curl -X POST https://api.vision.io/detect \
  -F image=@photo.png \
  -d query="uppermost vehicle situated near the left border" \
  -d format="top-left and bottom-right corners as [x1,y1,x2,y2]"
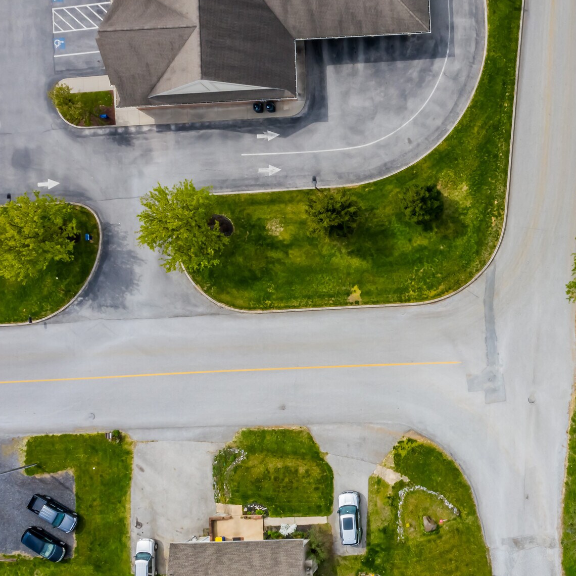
[25,491,81,532]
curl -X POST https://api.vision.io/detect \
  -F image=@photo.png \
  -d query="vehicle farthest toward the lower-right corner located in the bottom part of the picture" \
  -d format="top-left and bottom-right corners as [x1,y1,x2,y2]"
[337,492,362,545]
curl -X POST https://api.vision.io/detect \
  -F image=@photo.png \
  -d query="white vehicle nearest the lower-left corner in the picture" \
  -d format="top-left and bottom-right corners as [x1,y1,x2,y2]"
[133,537,161,576]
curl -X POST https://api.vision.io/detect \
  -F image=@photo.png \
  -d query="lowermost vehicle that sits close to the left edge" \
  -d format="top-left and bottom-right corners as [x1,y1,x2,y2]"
[19,523,69,561]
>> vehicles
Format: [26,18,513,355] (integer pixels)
[337,492,362,545]
[133,537,161,576]
[19,523,69,561]
[25,491,81,532]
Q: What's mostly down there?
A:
paved ground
